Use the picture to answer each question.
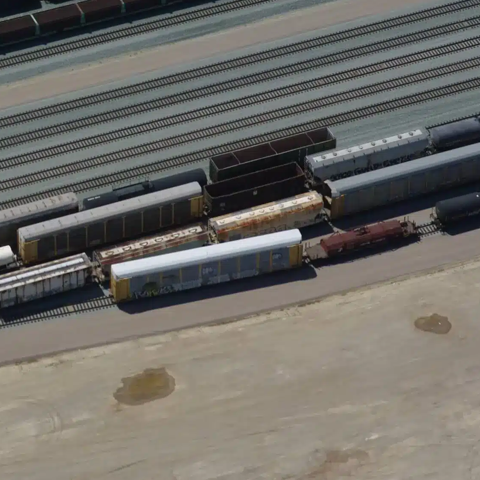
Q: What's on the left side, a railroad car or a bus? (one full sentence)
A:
It is a railroad car that can be seen on the left side.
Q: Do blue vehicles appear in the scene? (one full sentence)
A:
No, no blue vehicle is visible in the view.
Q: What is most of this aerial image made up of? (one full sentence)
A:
The largest share of the image is taken up by paved ground.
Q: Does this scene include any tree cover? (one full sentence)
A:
No, the scene doesn't show any tree cover.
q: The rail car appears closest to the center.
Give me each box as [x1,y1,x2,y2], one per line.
[82,170,214,212]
